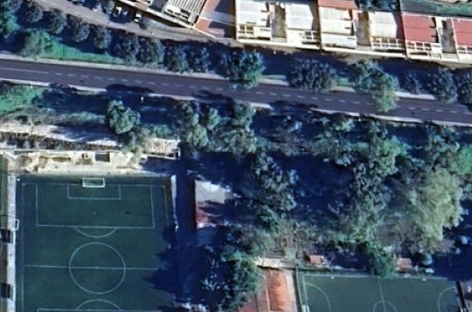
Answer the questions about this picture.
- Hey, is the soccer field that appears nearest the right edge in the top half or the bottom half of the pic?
bottom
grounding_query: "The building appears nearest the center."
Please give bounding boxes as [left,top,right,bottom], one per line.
[193,180,228,212]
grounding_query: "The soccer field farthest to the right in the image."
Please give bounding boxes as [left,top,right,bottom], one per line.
[17,175,179,312]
